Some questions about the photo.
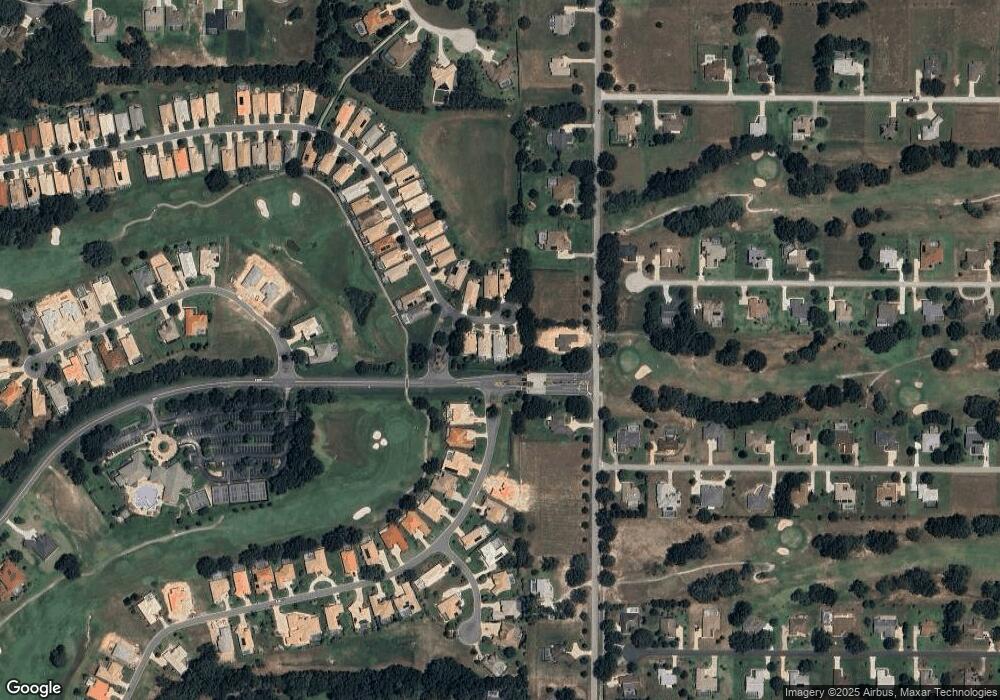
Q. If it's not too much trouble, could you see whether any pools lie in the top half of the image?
No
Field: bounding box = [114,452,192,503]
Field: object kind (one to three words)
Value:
building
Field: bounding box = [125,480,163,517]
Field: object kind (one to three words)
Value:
swimming pool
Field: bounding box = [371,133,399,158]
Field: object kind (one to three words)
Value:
house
